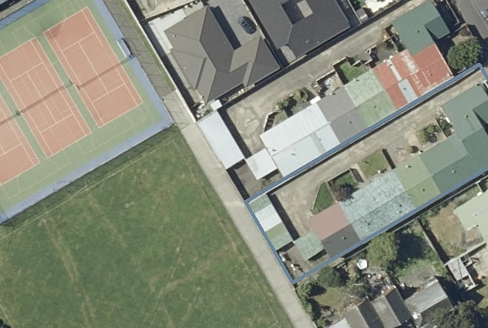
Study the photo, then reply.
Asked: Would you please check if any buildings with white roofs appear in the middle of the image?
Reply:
Yes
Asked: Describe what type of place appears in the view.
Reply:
sports ground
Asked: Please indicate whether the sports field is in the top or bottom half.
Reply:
bottom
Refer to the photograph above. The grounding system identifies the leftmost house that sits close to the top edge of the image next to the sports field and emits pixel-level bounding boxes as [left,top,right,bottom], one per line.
[162,5,281,105]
